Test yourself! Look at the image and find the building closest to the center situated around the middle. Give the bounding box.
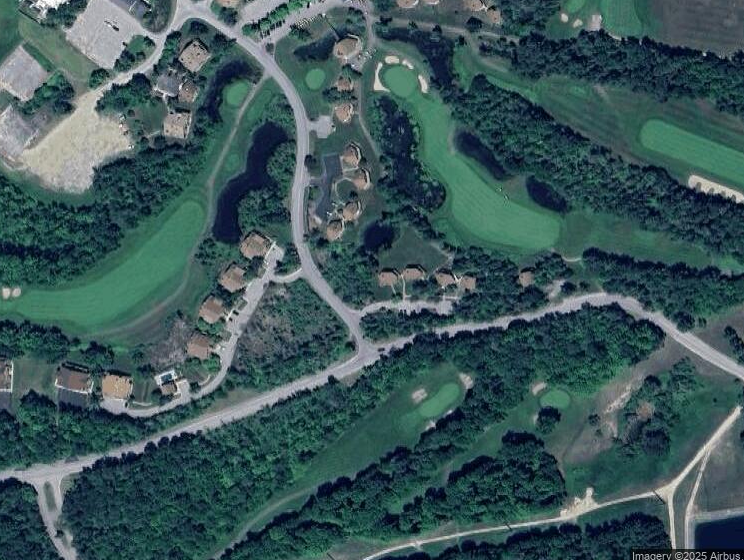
[376,267,397,287]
